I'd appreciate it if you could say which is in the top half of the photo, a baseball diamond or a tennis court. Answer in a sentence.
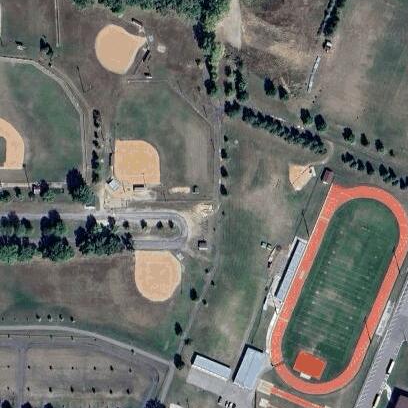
You can see a baseball diamond in the top half of the photo.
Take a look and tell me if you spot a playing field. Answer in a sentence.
Yes, the image includes a playing field.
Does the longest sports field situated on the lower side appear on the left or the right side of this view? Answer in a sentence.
The longest sports field situated on the lower side appears in the right half of the scene.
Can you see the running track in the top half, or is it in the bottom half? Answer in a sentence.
Seen from above, the running track lies in the bottom half of the view.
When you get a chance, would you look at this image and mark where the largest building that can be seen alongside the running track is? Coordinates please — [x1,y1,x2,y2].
[234,347,266,389]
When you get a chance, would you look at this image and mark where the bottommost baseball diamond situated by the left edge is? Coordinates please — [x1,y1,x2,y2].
[0,68,80,181]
